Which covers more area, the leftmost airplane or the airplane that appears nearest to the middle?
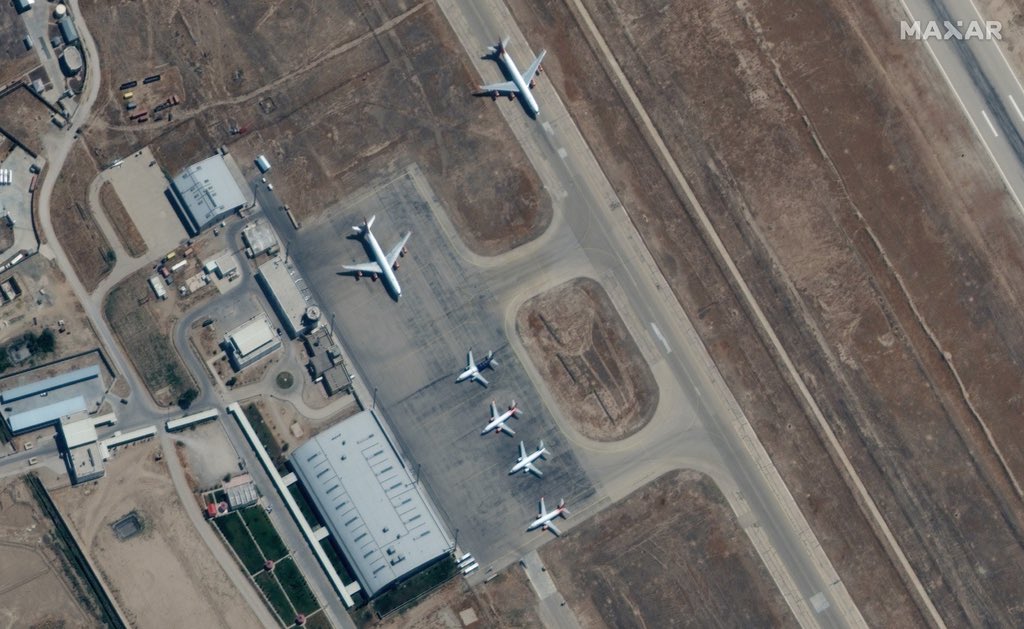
the leftmost airplane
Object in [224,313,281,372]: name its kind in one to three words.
building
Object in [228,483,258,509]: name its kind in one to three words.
greenhouse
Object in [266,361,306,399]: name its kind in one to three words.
roundabout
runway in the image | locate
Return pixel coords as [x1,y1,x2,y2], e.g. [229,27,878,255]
[899,0,1024,218]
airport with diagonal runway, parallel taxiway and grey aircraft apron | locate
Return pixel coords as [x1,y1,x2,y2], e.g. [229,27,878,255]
[286,0,1024,629]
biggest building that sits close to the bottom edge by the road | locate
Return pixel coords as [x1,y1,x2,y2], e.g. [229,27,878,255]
[291,410,453,602]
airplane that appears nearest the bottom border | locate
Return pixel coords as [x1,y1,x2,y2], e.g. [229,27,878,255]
[530,500,570,532]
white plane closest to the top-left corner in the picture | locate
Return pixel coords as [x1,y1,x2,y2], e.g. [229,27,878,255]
[343,216,411,298]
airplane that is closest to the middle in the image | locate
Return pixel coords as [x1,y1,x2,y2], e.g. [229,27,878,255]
[457,349,497,384]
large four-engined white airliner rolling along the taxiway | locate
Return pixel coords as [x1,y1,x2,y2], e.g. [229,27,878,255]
[479,35,546,116]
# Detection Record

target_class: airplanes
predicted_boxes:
[479,35,546,116]
[343,216,411,298]
[457,349,497,384]
[483,400,522,432]
[530,500,570,532]
[510,442,550,474]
